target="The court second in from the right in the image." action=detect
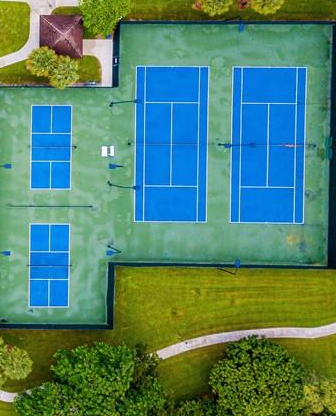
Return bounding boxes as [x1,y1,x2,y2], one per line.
[128,65,219,223]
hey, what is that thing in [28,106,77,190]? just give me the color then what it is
blue sports court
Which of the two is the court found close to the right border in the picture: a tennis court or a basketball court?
tennis court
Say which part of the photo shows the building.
top left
